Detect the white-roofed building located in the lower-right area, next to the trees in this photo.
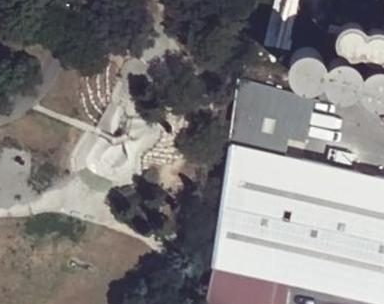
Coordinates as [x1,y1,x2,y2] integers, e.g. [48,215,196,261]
[211,142,384,304]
